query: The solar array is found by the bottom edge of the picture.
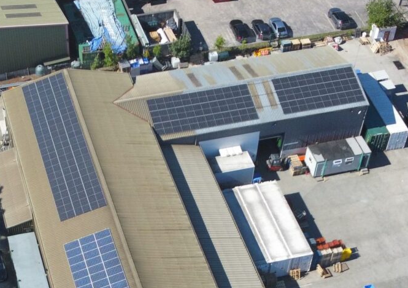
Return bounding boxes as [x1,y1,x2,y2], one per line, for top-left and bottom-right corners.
[63,227,130,288]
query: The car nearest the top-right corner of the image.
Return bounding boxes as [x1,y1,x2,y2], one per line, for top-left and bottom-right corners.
[329,8,353,30]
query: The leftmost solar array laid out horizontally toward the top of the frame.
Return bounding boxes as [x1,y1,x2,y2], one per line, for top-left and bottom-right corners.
[153,84,262,138]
